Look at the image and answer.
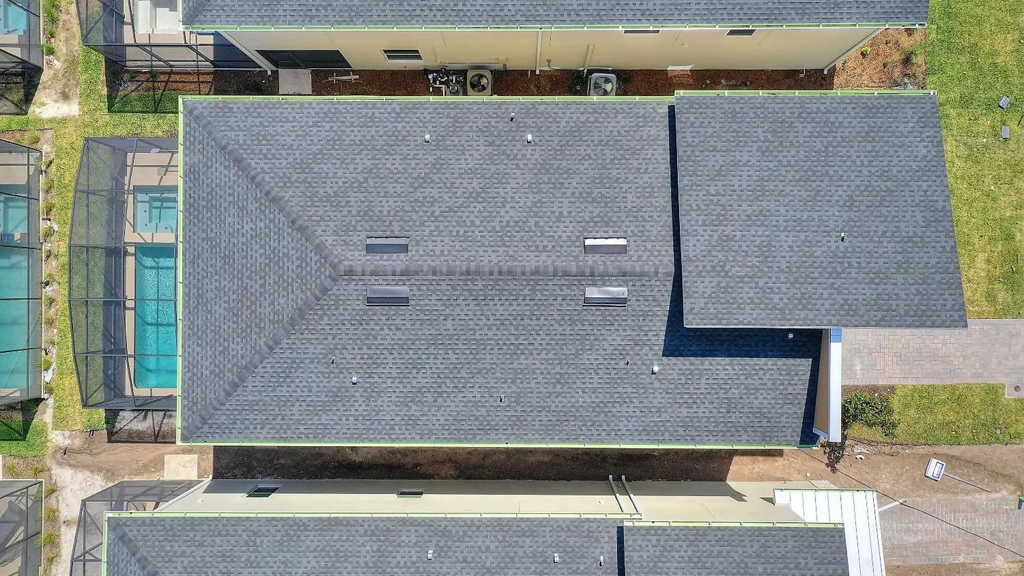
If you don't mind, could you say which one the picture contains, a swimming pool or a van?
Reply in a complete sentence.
I can see a swimming pool in this picture.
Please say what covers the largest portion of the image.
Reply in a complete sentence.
What you mostly see from above here is buildings.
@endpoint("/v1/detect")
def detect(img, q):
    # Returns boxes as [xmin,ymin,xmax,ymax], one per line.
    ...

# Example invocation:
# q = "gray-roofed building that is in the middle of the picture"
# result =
[178,90,968,445]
